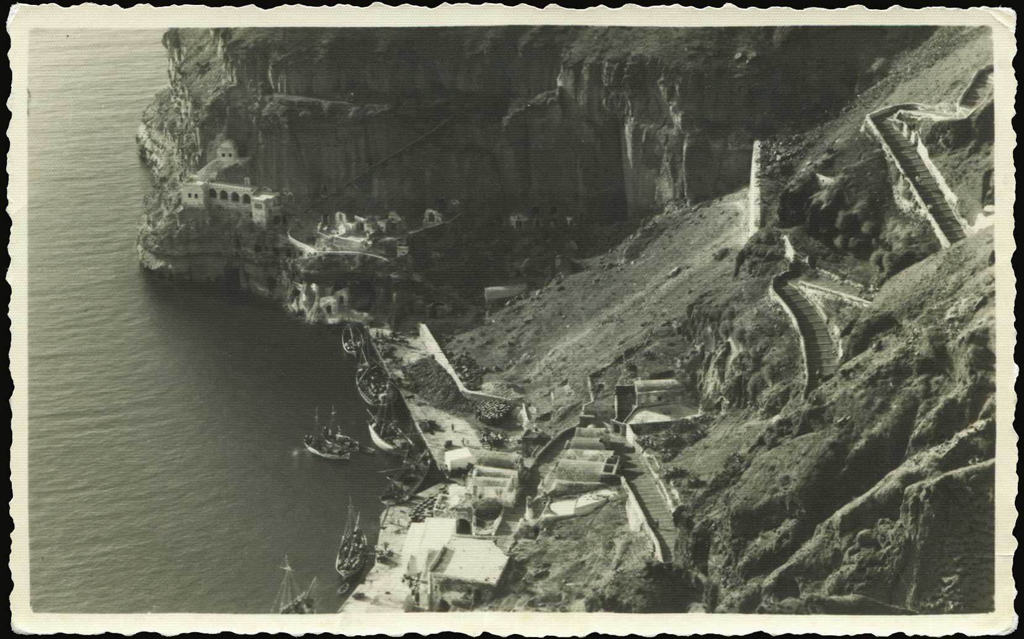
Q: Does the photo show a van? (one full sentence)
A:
No, there isn't any van down there.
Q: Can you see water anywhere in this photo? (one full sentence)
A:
Yes, water shows up in the scene.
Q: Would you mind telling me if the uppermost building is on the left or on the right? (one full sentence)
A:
You can find the uppermost building on the left side of the picture.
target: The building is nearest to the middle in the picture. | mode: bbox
[486,283,527,312]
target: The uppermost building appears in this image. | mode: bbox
[218,139,242,172]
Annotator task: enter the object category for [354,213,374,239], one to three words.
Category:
house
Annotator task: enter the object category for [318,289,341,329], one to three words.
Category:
house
